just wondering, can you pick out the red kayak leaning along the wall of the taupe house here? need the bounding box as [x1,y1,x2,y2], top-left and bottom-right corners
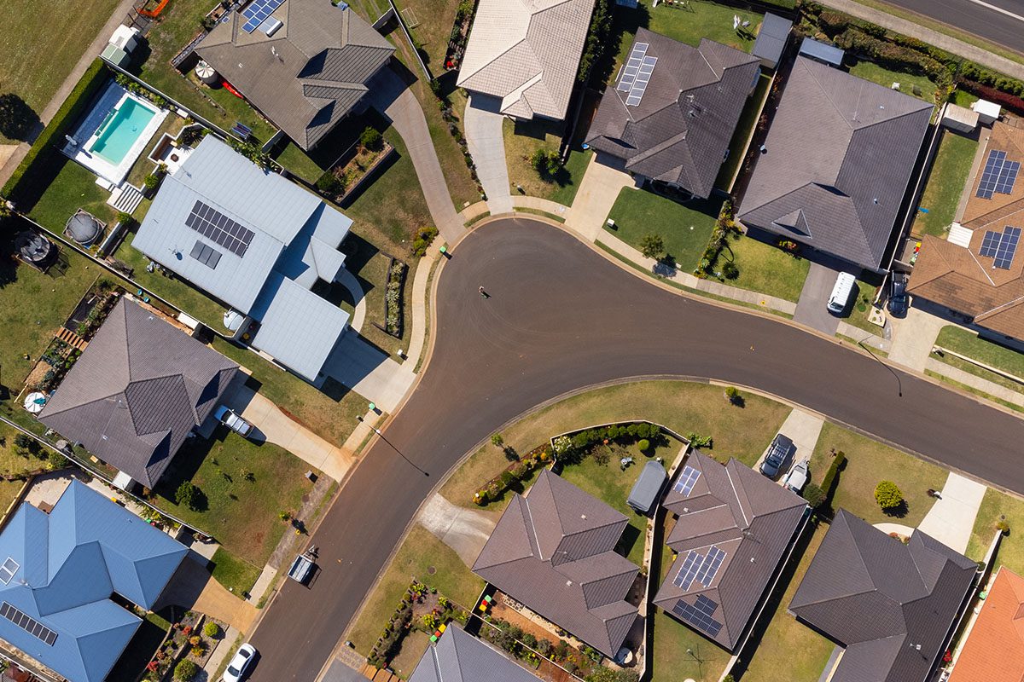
[219,77,244,99]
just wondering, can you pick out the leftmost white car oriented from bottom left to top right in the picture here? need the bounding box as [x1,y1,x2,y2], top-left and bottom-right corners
[222,642,259,682]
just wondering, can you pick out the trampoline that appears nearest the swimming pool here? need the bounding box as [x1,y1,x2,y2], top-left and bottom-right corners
[63,207,107,247]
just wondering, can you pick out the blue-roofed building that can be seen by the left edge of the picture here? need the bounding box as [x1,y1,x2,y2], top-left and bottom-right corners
[0,479,190,682]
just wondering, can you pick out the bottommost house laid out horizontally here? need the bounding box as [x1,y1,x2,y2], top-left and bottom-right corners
[408,622,551,682]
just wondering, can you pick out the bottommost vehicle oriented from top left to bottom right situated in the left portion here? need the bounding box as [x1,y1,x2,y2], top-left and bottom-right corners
[214,406,258,440]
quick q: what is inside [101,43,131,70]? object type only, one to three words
building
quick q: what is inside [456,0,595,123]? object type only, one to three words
house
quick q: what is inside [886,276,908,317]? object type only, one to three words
vehicle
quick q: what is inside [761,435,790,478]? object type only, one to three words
vehicle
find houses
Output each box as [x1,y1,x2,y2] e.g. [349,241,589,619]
[614,0,638,15]
[584,26,762,200]
[131,133,354,381]
[0,479,190,682]
[408,622,551,682]
[905,121,1024,345]
[456,0,595,123]
[652,448,809,651]
[471,468,641,658]
[788,507,980,682]
[944,565,1024,682]
[737,54,934,271]
[194,0,396,152]
[37,296,240,489]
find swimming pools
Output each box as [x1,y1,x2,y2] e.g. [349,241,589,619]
[64,81,170,186]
